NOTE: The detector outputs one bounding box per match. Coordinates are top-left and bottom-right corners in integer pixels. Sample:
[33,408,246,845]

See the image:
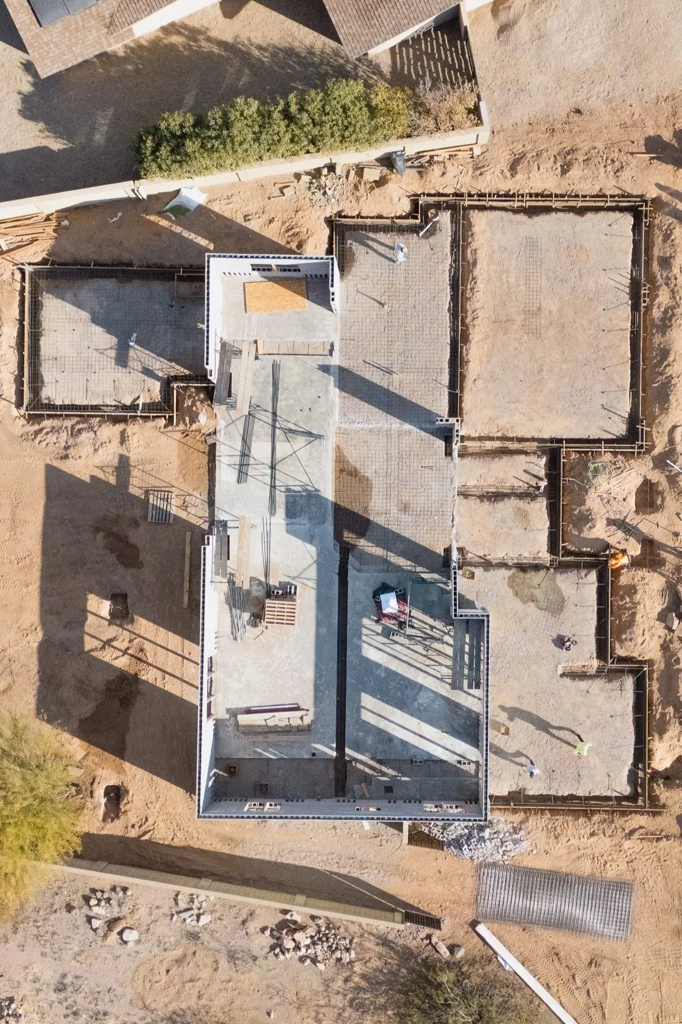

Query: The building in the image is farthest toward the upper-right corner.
[324,0,470,72]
